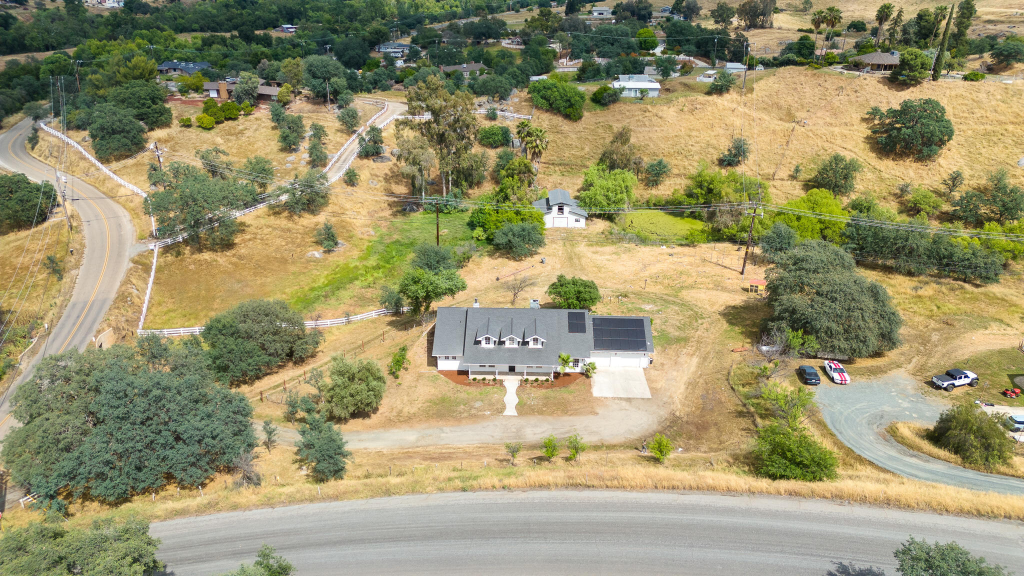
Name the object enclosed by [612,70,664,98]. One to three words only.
house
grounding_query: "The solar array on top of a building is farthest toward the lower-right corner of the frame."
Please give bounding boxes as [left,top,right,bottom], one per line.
[594,320,649,352]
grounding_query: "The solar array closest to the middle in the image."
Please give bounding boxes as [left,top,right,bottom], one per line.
[567,313,585,334]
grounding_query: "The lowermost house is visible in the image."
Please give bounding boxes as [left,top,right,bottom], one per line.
[431,292,655,385]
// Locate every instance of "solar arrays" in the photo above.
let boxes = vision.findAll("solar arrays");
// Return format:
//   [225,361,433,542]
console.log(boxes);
[594,320,649,352]
[567,313,585,334]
